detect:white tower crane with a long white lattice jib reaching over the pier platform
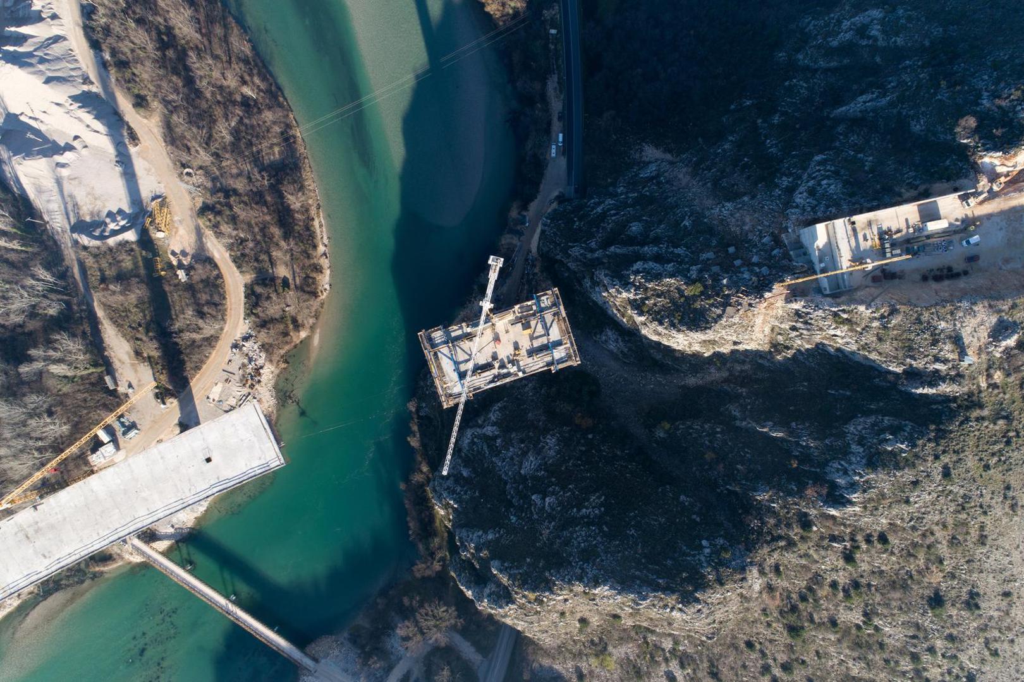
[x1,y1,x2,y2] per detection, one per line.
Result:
[443,258,504,476]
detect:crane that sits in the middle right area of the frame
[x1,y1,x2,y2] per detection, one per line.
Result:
[772,254,910,289]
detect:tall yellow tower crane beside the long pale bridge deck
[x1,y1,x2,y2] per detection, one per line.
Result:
[0,381,157,515]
